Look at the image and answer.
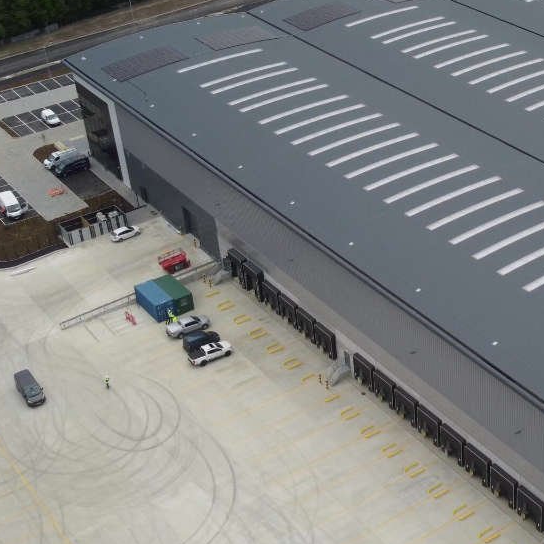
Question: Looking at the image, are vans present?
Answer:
Yes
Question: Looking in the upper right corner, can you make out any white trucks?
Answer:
No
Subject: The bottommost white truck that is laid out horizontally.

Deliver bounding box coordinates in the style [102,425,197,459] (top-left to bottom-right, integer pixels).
[187,343,234,367]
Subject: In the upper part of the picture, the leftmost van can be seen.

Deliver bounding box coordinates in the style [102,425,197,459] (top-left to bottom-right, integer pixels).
[0,190,30,220]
